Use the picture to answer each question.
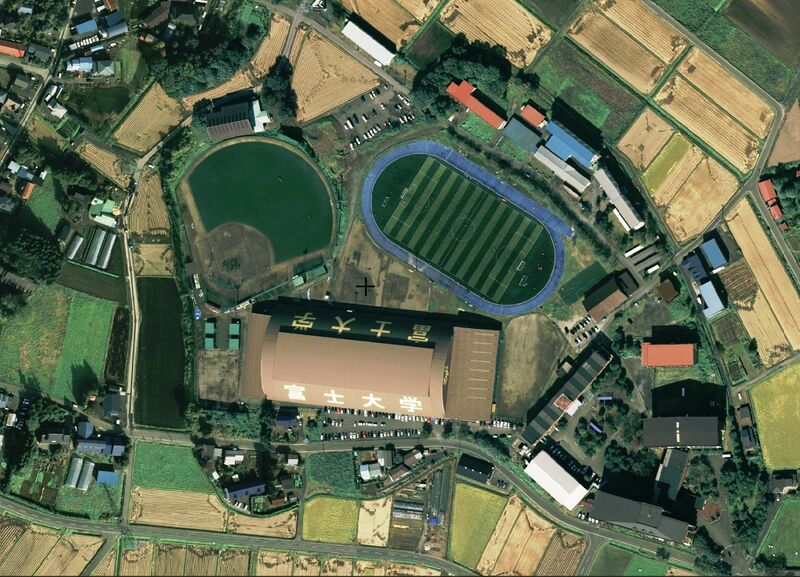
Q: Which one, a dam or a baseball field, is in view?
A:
baseball field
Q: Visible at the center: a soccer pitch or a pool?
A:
soccer pitch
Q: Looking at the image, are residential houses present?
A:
Yes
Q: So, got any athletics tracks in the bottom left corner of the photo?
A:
No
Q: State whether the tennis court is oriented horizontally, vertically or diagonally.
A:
diagonally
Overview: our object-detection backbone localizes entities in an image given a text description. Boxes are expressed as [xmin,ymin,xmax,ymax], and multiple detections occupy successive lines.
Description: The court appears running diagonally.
[558,261,608,306]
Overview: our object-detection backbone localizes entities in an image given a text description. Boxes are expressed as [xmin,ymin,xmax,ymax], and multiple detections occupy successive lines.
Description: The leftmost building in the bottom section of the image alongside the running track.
[241,310,502,421]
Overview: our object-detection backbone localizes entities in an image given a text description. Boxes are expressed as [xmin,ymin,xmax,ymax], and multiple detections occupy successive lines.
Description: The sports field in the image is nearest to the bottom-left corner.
[200,350,238,400]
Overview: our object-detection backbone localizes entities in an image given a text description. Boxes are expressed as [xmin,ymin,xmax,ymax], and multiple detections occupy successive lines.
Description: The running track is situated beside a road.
[360,141,574,316]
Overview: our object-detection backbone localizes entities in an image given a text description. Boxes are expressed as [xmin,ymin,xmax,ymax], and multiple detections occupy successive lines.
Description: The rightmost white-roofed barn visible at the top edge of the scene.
[341,21,398,66]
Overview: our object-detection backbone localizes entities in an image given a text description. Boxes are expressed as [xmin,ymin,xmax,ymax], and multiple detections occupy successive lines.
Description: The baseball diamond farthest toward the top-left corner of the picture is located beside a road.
[177,137,338,305]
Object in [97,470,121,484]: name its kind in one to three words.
shed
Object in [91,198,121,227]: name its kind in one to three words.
house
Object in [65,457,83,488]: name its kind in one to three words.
greenhouse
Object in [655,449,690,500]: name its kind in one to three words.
building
